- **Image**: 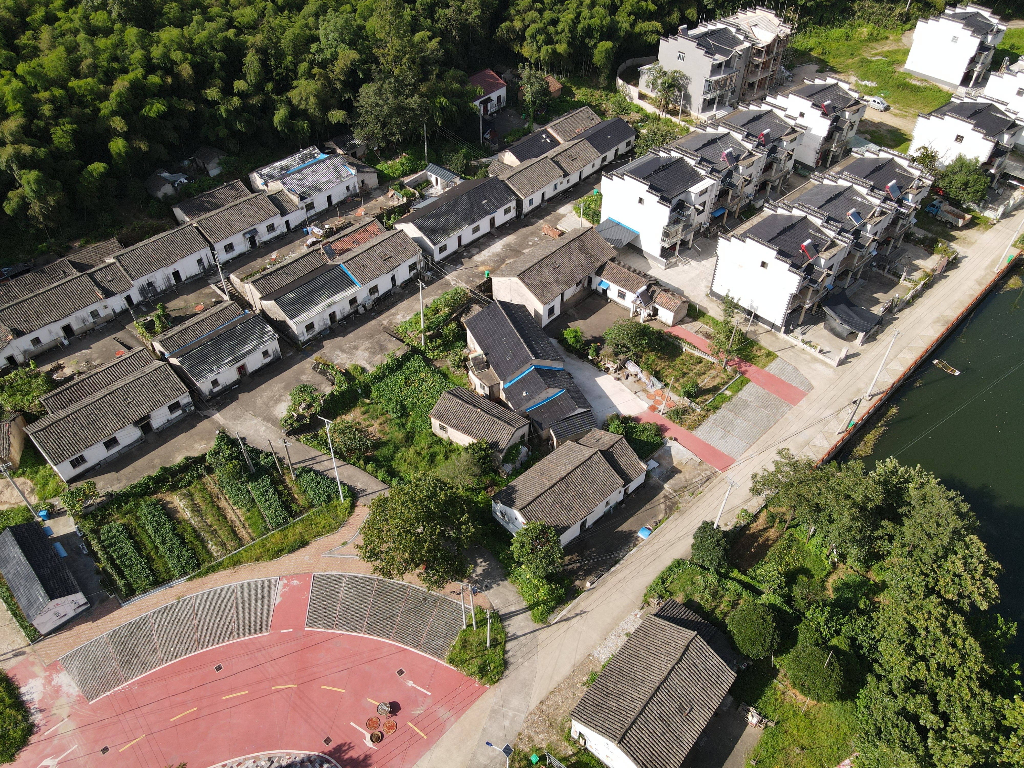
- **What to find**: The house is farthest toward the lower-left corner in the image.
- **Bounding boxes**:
[0,522,89,638]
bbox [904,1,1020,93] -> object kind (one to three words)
house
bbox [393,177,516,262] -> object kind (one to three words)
house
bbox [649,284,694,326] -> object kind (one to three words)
shed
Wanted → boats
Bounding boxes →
[934,359,960,373]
